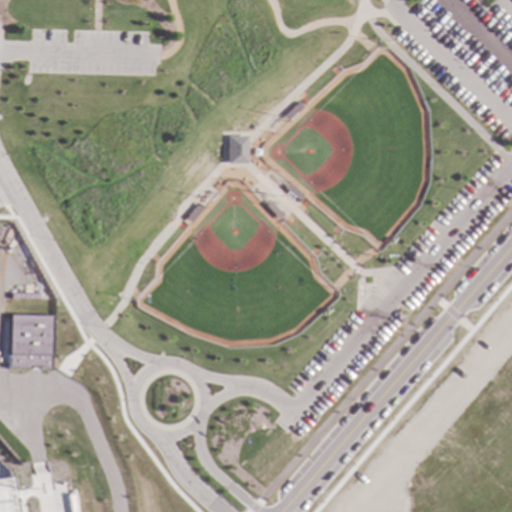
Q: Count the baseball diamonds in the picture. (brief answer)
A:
2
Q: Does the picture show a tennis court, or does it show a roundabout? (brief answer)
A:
roundabout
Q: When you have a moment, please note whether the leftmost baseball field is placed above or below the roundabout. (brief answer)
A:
above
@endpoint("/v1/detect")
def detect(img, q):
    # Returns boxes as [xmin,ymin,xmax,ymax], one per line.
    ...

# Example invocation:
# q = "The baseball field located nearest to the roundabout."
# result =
[135,167,340,347]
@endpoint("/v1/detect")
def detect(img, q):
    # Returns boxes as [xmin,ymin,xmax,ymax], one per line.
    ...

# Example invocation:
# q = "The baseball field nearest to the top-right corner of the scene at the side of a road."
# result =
[256,46,432,251]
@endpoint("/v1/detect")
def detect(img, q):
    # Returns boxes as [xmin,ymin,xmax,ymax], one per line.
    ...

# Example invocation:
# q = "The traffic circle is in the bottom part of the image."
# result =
[130,358,212,440]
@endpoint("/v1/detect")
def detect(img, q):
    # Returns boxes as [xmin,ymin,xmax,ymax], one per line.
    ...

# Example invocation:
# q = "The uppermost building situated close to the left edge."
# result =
[10,315,56,368]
